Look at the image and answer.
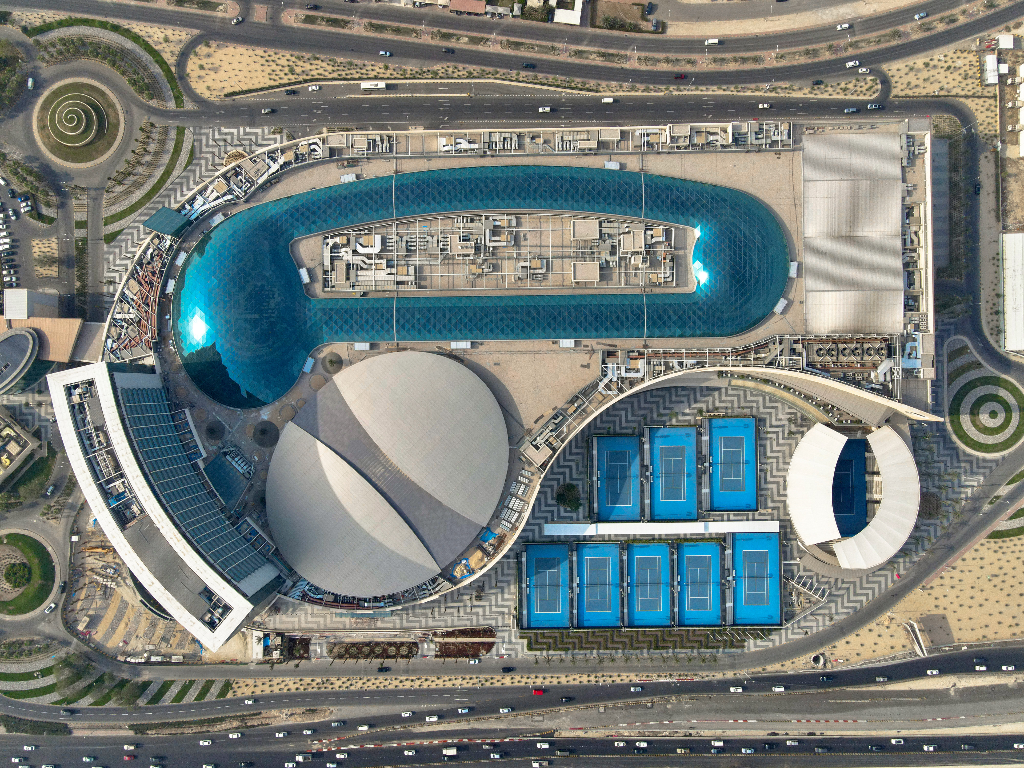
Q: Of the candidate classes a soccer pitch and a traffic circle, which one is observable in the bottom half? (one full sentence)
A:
The feature located in the bottom half is a traffic circle.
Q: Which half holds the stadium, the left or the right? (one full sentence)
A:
The stadium appears in the right half of the scene.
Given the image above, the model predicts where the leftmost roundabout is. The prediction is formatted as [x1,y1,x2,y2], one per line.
[0,528,60,620]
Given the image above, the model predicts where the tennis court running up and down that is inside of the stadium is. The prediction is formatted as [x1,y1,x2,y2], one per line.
[834,438,867,538]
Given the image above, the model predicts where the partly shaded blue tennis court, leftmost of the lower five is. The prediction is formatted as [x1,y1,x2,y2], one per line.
[526,545,570,627]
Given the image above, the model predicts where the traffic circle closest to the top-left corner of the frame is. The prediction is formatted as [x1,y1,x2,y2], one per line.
[33,77,125,168]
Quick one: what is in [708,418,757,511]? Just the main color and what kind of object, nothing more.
blue tennis court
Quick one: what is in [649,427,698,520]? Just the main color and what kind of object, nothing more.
blue tennis court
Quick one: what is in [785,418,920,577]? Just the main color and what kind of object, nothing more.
white stadium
